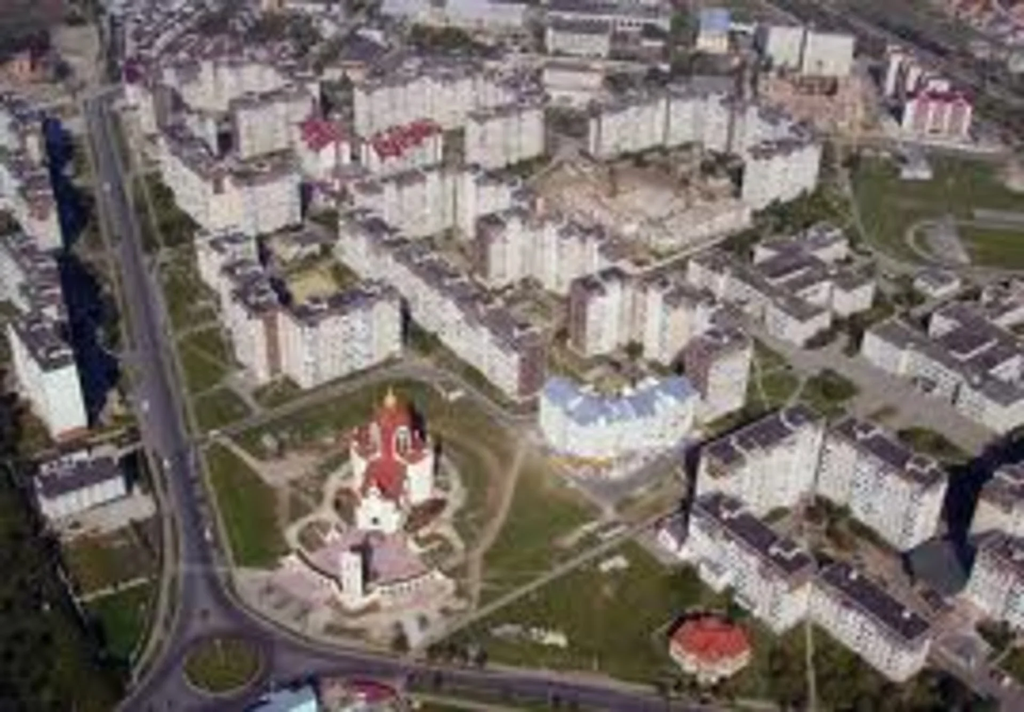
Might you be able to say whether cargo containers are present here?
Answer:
No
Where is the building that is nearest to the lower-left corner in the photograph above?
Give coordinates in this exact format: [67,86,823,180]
[42,452,132,521]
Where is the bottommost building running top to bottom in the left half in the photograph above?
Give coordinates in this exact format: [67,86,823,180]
[334,536,365,611]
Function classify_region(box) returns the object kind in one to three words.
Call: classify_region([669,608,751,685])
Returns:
house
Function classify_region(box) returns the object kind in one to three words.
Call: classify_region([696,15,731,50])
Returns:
house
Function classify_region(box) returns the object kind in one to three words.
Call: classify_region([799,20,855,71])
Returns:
building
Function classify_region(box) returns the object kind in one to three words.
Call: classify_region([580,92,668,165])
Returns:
building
